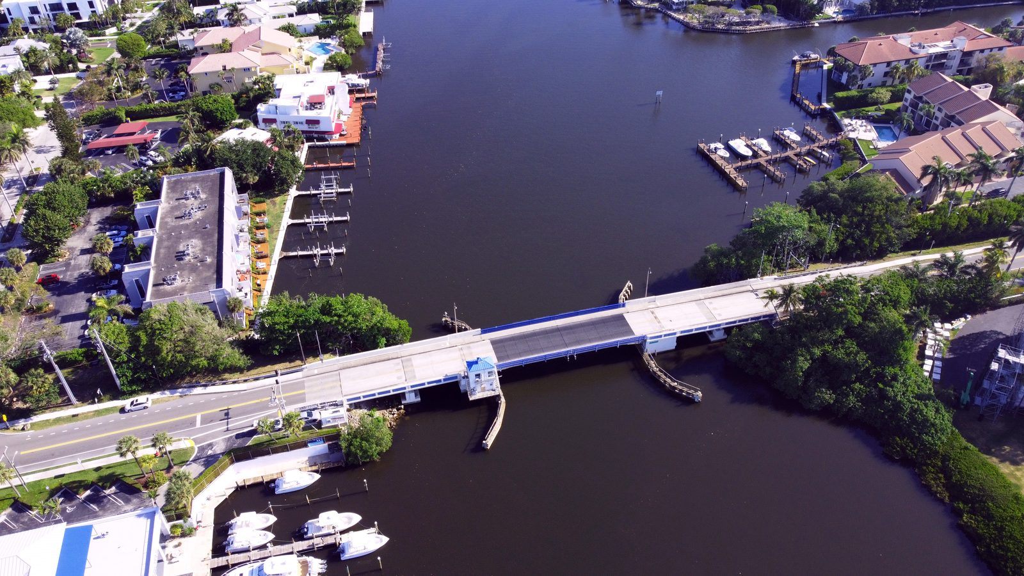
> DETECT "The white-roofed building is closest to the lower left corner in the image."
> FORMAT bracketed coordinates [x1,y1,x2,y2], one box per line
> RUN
[0,506,171,576]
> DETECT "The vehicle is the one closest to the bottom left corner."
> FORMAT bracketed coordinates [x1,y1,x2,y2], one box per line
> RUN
[125,396,151,411]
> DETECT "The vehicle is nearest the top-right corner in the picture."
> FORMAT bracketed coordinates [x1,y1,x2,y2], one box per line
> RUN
[986,186,1007,198]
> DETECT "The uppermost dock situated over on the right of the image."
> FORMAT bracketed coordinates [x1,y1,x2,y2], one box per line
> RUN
[789,55,837,113]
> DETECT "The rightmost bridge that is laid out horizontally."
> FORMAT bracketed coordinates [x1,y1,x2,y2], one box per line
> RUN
[305,276,776,430]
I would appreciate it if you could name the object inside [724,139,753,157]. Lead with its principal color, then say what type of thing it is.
white boat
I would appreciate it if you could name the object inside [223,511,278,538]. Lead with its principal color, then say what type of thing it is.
white boat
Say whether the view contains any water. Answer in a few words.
Yes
